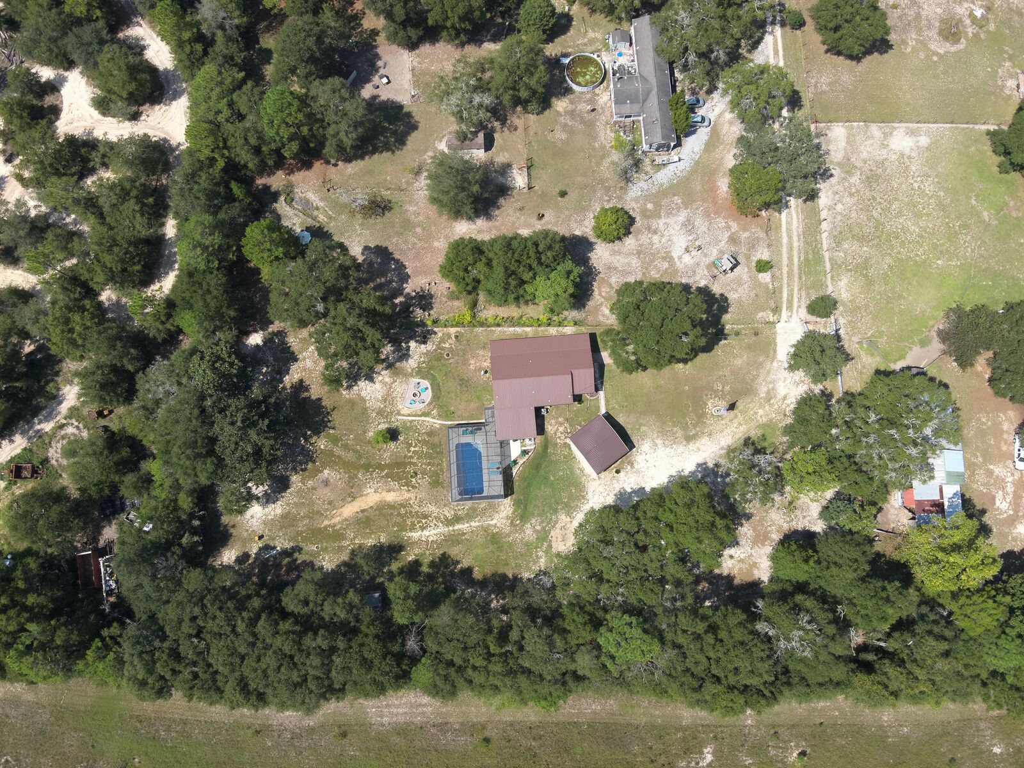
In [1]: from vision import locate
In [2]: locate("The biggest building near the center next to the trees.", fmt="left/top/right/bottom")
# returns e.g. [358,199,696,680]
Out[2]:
[489,333,595,440]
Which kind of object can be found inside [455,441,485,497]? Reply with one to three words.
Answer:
swimming pool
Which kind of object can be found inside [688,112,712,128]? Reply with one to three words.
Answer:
car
